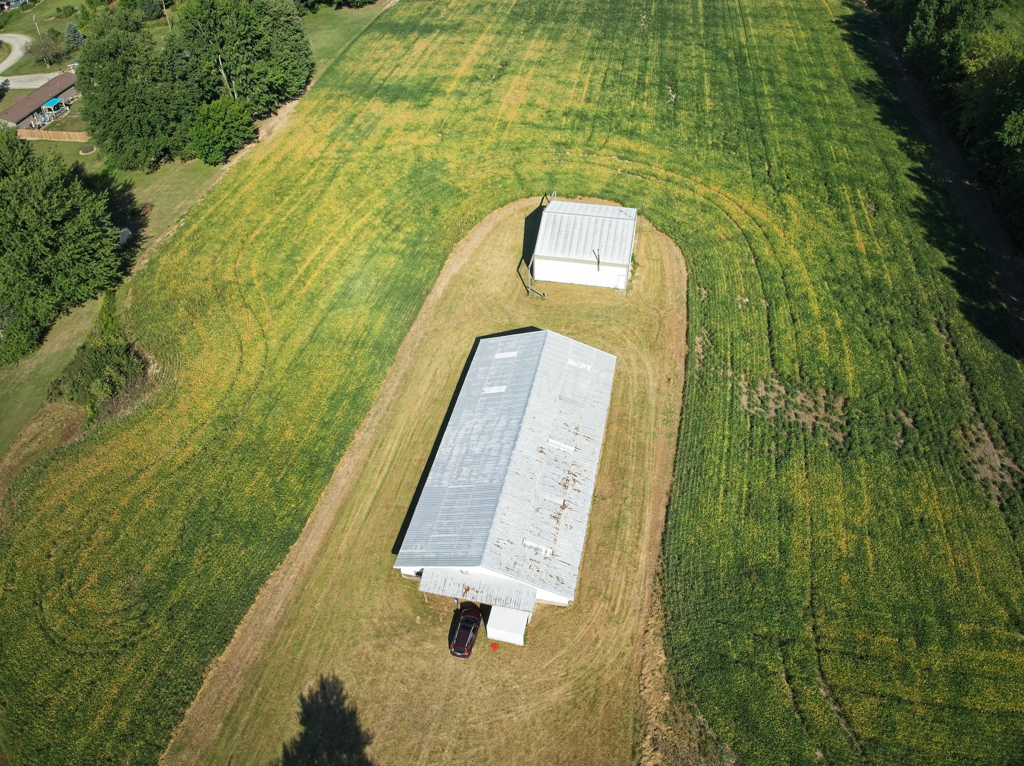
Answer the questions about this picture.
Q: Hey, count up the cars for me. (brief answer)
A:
1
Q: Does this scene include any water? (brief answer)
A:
No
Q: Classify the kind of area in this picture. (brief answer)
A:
farmland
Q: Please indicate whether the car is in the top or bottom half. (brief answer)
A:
bottom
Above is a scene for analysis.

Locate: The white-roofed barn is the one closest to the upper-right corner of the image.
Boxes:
[533,200,639,290]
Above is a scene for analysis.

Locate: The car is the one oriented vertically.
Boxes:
[449,608,481,660]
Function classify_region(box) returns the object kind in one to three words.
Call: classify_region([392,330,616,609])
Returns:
barn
